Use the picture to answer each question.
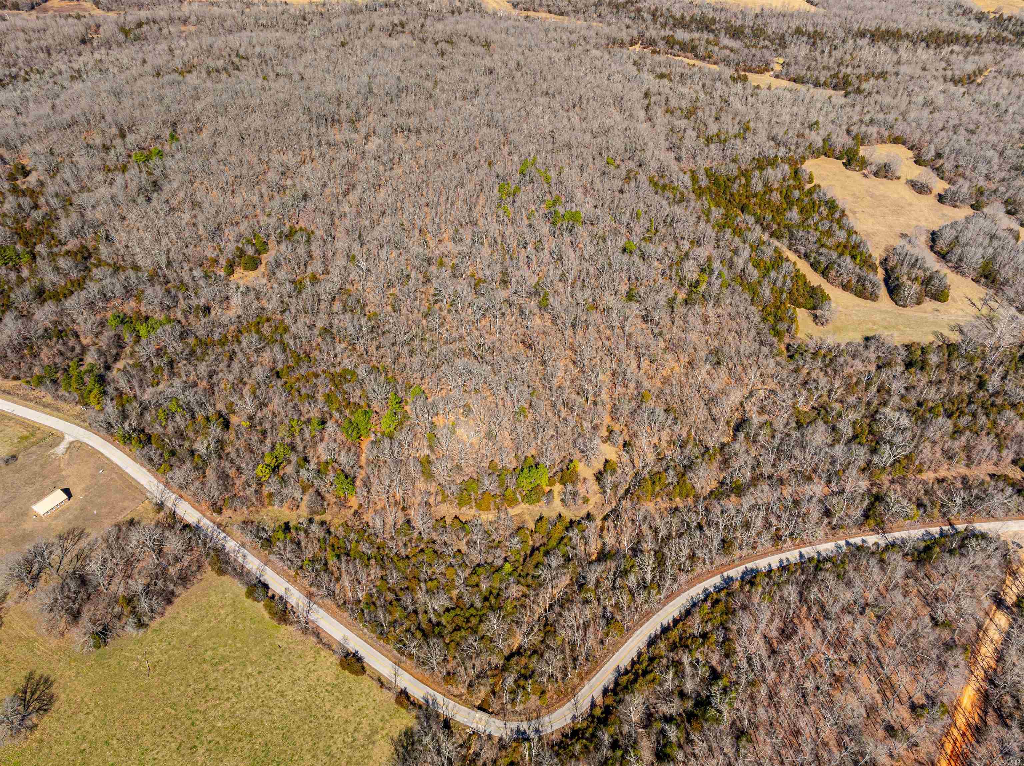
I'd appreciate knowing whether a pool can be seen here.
No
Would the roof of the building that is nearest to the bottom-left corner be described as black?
No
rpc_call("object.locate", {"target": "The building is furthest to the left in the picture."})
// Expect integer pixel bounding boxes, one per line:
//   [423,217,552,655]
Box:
[34,489,71,519]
